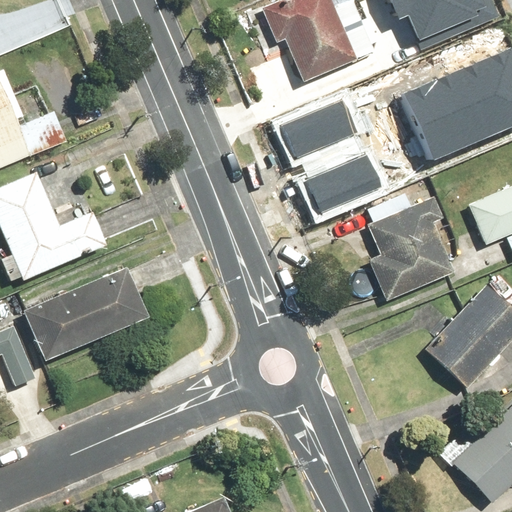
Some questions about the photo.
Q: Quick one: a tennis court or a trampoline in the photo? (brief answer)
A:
trampoline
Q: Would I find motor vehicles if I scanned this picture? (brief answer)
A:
Yes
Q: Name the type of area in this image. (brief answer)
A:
residential area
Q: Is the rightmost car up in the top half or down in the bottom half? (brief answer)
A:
top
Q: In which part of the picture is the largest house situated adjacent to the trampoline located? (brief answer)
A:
right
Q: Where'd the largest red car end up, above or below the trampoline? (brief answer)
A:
above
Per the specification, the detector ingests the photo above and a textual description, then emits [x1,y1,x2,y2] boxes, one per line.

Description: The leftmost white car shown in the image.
[0,449,28,470]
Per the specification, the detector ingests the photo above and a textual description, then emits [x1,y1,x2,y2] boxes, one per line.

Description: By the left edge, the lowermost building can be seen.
[0,326,35,388]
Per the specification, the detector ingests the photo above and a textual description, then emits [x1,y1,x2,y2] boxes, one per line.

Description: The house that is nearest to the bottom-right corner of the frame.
[454,407,512,502]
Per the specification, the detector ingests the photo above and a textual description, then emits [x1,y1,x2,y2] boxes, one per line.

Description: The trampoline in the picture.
[349,272,373,296]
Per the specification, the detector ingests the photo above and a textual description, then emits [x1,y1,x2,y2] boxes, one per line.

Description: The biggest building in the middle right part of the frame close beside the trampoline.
[368,197,454,302]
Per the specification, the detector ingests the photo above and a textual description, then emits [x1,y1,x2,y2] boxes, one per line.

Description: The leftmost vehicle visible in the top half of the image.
[29,160,58,178]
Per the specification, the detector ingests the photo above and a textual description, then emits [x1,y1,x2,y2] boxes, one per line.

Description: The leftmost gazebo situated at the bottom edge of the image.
[126,479,152,498]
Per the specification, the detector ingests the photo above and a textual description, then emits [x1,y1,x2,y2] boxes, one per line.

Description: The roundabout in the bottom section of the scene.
[259,348,296,384]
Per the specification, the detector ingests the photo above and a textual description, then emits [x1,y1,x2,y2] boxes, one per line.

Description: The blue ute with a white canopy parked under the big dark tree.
[278,266,300,300]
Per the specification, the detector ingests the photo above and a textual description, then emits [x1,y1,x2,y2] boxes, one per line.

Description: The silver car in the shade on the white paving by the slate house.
[391,44,420,64]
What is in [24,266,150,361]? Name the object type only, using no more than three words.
house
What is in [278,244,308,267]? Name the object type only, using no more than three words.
vehicle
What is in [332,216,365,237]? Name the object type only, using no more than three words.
car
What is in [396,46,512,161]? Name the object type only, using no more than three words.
house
